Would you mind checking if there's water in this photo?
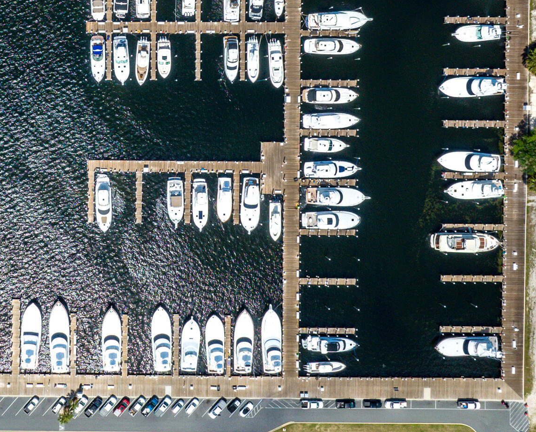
Yes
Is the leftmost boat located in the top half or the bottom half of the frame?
bottom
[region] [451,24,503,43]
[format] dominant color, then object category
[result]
white boat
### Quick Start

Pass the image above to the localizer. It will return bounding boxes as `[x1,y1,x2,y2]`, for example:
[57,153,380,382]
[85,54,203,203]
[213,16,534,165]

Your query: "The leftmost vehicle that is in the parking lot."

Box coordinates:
[23,394,40,416]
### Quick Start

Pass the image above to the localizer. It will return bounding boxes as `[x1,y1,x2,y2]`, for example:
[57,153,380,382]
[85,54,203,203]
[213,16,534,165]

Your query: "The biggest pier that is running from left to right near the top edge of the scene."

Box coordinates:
[85,21,287,35]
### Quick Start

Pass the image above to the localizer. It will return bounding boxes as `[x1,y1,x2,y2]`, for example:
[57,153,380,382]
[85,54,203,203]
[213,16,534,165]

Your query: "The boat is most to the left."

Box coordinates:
[21,302,42,369]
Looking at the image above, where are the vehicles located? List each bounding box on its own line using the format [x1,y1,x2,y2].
[153,393,171,418]
[208,397,226,419]
[384,400,407,409]
[72,394,89,418]
[335,400,355,410]
[50,394,67,416]
[128,394,146,417]
[85,395,103,418]
[456,400,480,411]
[239,401,253,417]
[23,394,40,416]
[170,398,185,415]
[301,399,323,410]
[139,394,159,418]
[98,394,118,418]
[225,394,241,416]
[361,400,383,409]
[112,395,130,418]
[184,397,200,415]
